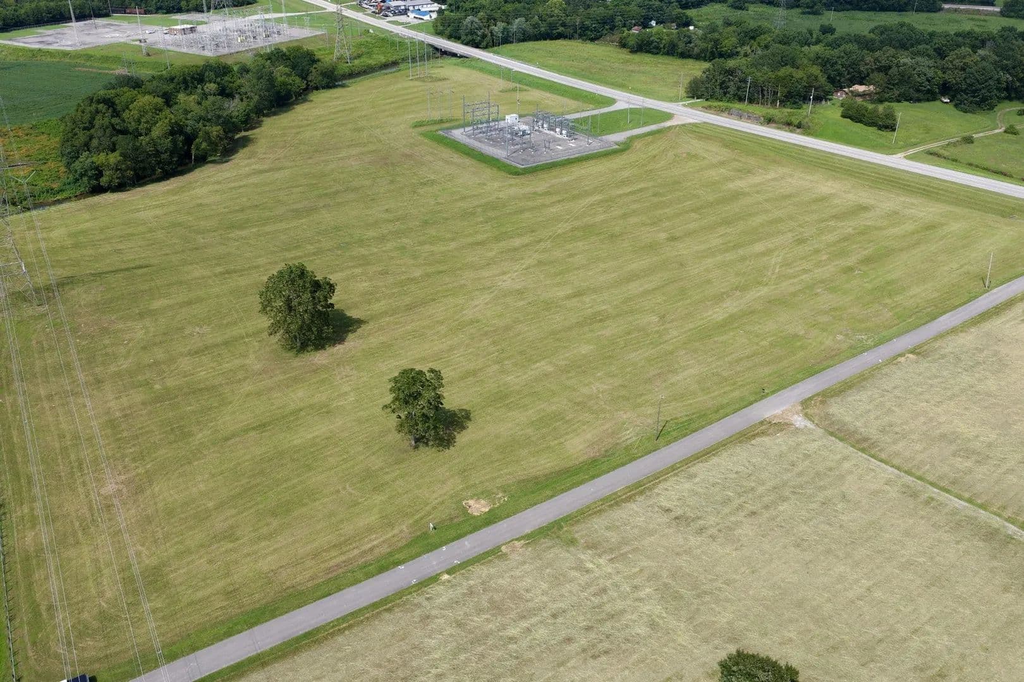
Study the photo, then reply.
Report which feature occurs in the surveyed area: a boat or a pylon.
pylon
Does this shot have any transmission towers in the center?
No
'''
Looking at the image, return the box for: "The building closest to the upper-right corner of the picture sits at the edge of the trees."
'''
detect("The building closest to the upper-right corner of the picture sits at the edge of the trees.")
[835,82,871,97]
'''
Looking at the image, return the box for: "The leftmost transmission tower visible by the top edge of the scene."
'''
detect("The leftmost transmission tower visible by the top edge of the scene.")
[62,0,82,44]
